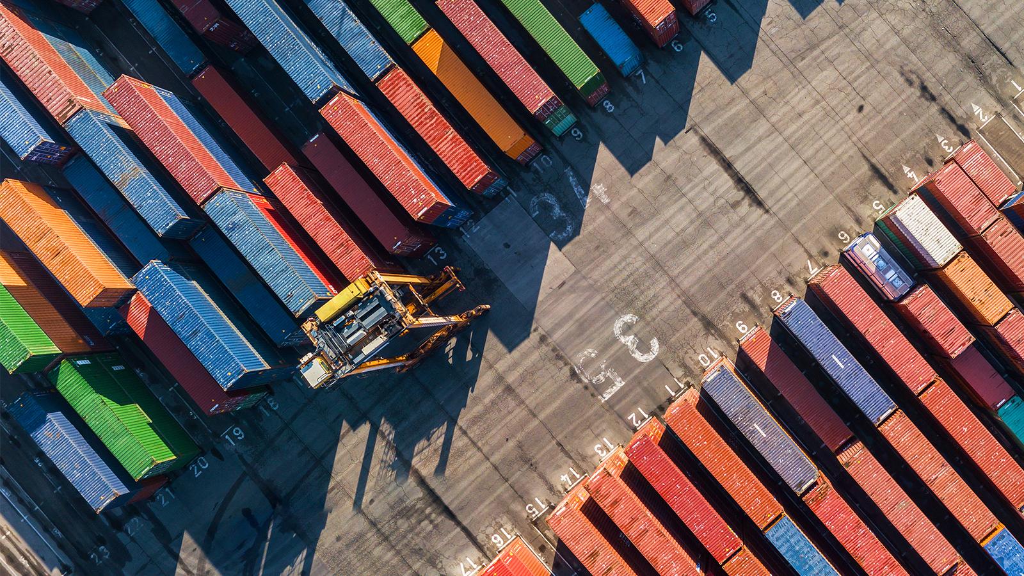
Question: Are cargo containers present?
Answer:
Yes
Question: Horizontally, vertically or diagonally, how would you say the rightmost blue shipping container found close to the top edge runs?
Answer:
diagonally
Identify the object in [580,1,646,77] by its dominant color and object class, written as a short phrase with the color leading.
blue shipping container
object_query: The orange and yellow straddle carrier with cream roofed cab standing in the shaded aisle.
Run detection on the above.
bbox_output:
[281,259,492,407]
